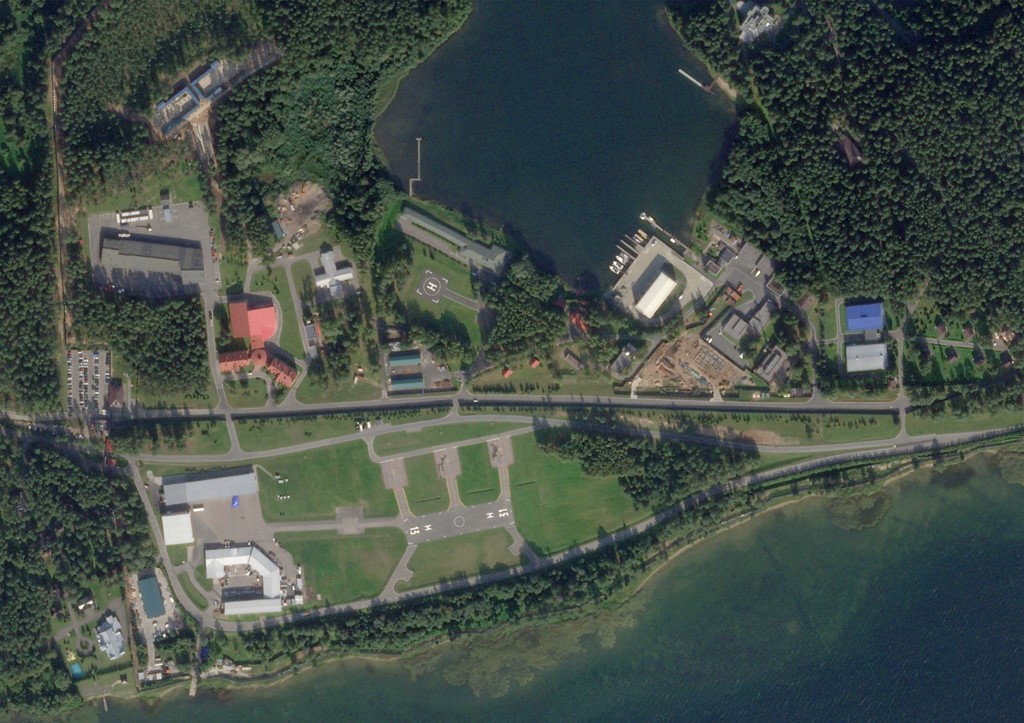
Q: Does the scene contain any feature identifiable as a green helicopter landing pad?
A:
No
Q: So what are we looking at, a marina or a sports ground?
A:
marina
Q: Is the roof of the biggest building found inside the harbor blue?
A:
No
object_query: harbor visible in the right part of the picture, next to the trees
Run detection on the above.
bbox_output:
[613,236,713,329]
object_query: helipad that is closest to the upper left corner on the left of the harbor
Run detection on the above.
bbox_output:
[416,269,484,311]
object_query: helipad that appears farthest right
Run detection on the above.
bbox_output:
[487,436,514,501]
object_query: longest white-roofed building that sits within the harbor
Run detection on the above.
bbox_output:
[635,272,678,319]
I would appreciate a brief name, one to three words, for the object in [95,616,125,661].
house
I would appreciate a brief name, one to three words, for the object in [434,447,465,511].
helipad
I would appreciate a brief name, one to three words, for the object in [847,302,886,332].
building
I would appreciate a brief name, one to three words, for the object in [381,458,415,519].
helipad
